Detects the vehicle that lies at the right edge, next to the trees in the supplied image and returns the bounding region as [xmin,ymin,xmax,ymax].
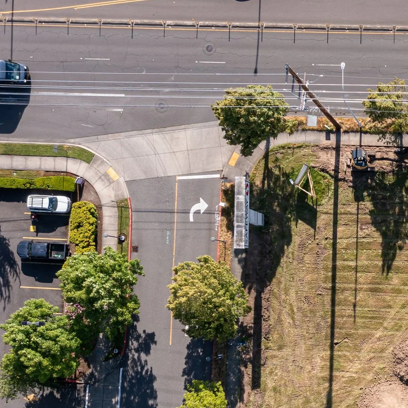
[348,142,408,176]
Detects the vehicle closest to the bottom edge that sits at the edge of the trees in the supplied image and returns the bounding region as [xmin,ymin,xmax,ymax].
[16,238,70,261]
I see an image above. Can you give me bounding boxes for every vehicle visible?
[16,238,70,261]
[0,59,31,86]
[23,192,72,216]
[348,142,408,176]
